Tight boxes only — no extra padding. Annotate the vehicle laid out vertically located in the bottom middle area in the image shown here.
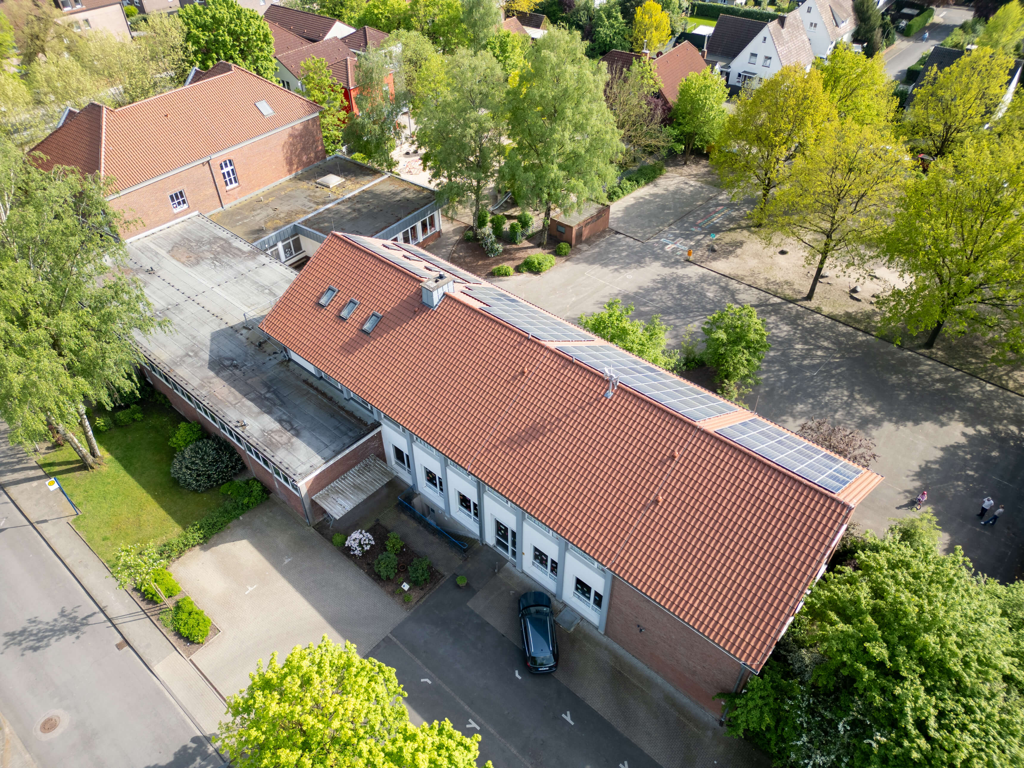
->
[516,595,563,679]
